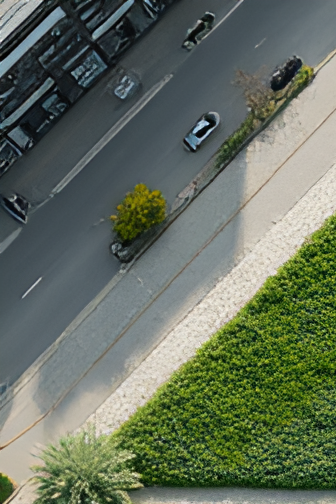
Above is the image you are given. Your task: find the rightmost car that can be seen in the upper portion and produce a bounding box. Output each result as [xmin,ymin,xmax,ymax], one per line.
[267,55,304,91]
